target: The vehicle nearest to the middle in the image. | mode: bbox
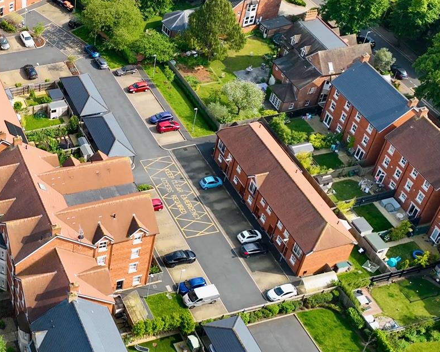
[199,176,223,190]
